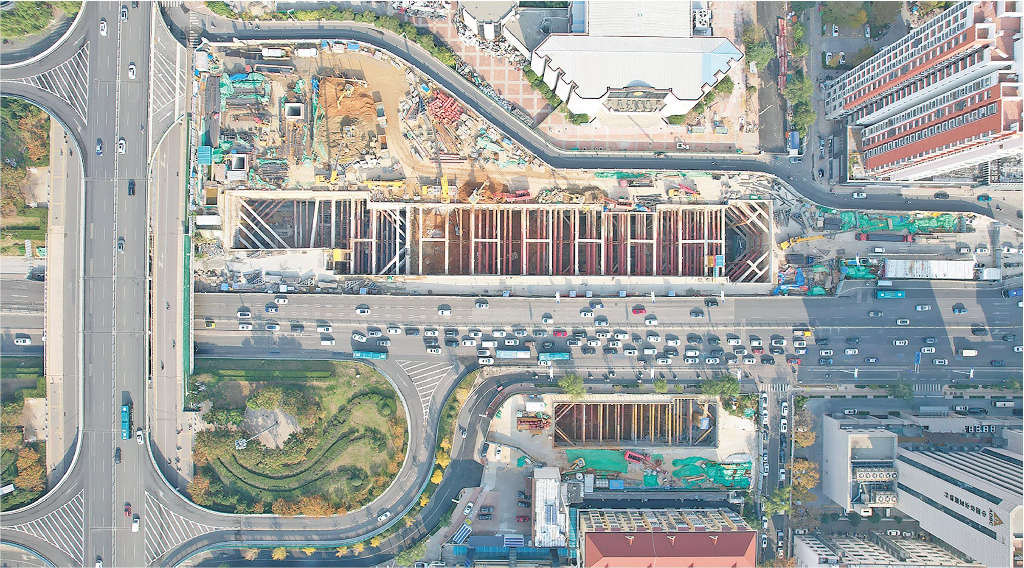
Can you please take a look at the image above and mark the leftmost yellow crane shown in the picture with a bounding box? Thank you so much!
[314,131,348,188]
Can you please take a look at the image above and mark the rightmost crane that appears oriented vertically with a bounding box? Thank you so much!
[424,119,455,204]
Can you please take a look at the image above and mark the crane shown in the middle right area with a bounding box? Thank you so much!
[771,223,882,256]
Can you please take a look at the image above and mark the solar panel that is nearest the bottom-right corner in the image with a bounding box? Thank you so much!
[545,506,558,526]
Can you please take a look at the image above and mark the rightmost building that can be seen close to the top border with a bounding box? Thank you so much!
[828,0,1024,176]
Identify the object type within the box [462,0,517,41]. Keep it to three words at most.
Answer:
building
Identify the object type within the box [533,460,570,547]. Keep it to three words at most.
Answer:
house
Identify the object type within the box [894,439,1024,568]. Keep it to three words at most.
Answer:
building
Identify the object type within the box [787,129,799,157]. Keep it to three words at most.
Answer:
vehicle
